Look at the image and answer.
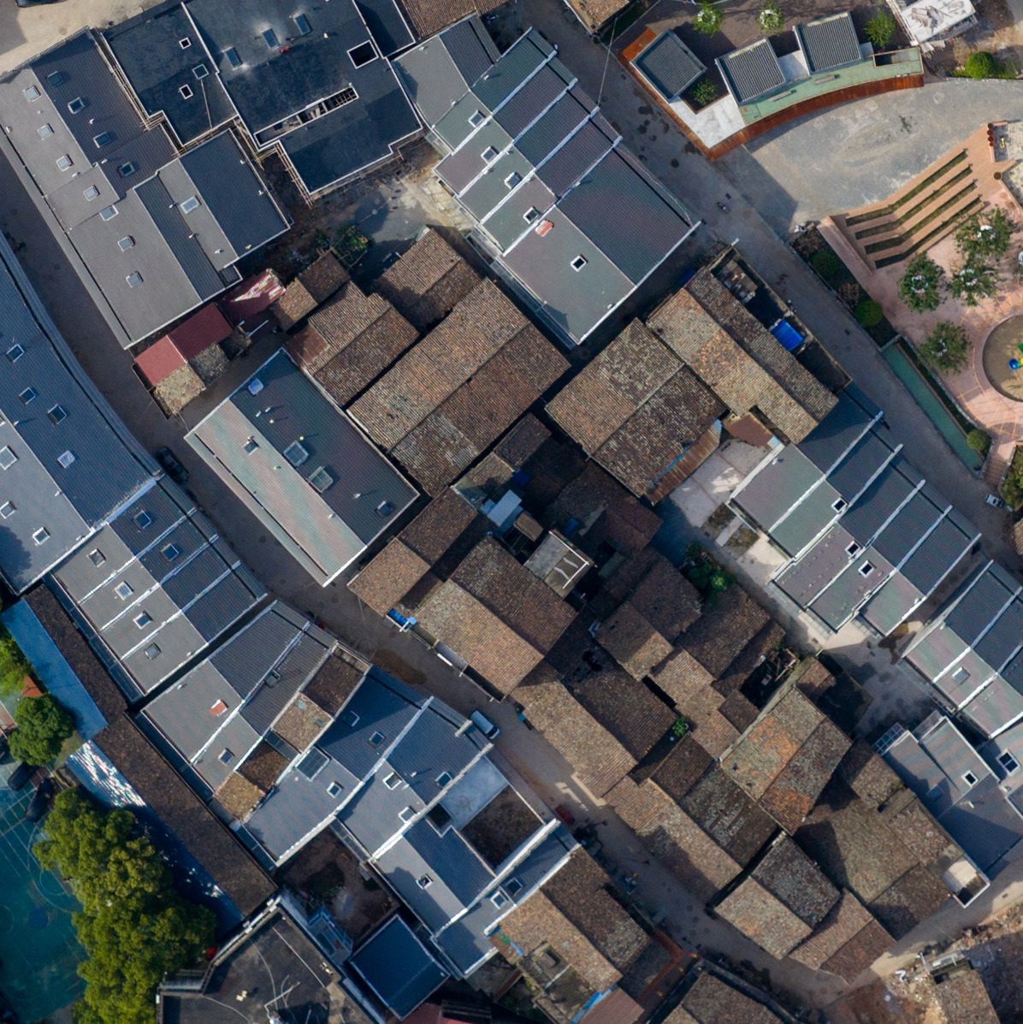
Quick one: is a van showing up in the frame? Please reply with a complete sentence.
Yes, a van appears in the view.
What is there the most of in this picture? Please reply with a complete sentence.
The bulk of the photo consists of buildings.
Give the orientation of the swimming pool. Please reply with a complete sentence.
The swimming pool is oriented on a diagonal.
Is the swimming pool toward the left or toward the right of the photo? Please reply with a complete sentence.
You can find the swimming pool on the right side of the picture.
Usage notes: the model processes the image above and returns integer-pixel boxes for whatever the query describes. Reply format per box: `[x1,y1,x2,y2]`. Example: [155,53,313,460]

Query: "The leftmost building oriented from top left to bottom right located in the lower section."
[1,585,129,742]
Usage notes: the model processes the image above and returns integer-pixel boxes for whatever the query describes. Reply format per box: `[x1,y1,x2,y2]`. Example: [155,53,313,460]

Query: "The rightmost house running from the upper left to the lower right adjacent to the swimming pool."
[646,268,834,441]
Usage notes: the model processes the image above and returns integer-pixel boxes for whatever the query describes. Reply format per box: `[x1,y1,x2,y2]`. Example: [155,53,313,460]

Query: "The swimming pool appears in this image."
[883,345,981,474]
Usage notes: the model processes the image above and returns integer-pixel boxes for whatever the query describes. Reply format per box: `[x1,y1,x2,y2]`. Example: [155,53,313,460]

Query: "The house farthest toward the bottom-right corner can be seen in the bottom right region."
[928,964,1000,1024]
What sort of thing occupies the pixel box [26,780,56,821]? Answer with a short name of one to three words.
car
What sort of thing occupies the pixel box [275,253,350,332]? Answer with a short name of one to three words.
house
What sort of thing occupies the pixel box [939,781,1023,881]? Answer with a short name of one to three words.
building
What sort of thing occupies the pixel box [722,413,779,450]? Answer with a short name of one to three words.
shed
